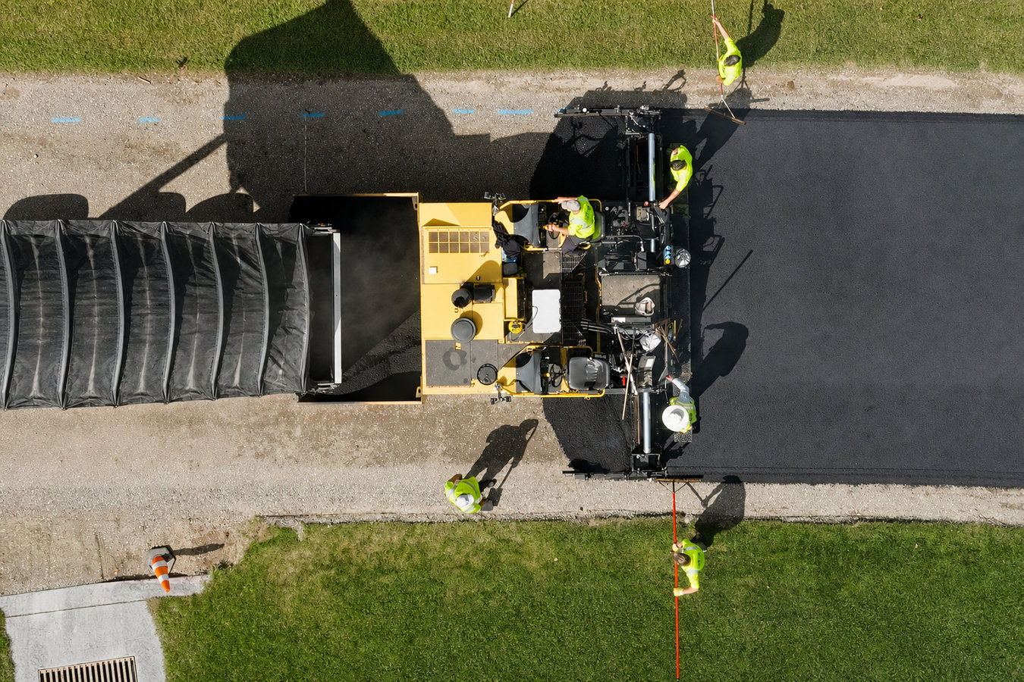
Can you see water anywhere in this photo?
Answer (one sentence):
No, there is no water in the image.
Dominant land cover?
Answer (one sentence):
For the most part, this view shows paved ground.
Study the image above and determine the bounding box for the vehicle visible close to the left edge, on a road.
[0,220,349,414]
